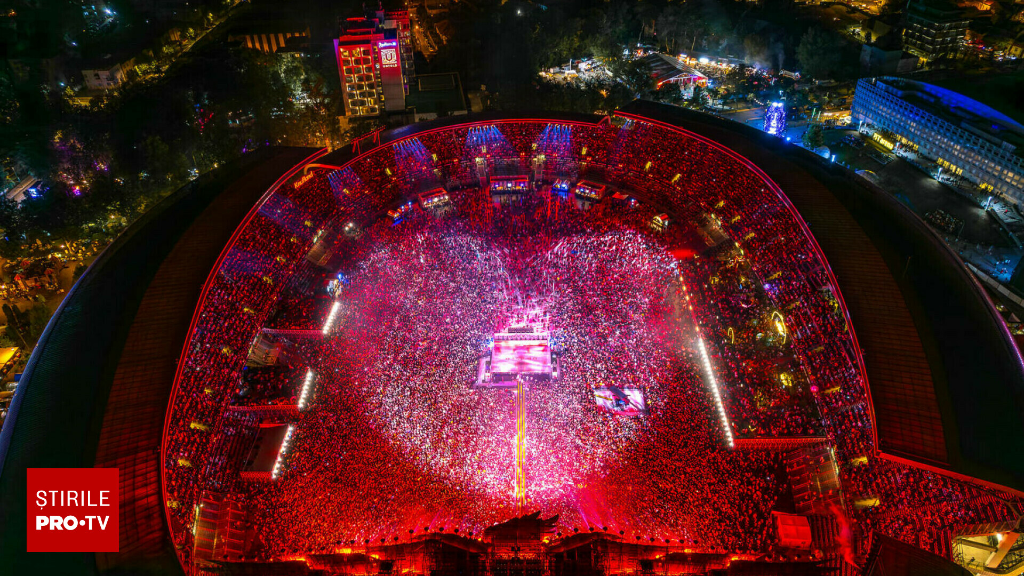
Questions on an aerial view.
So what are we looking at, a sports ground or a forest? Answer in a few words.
sports ground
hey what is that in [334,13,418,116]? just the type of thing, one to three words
building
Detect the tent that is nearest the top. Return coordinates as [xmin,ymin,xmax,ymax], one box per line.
[605,50,710,91]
